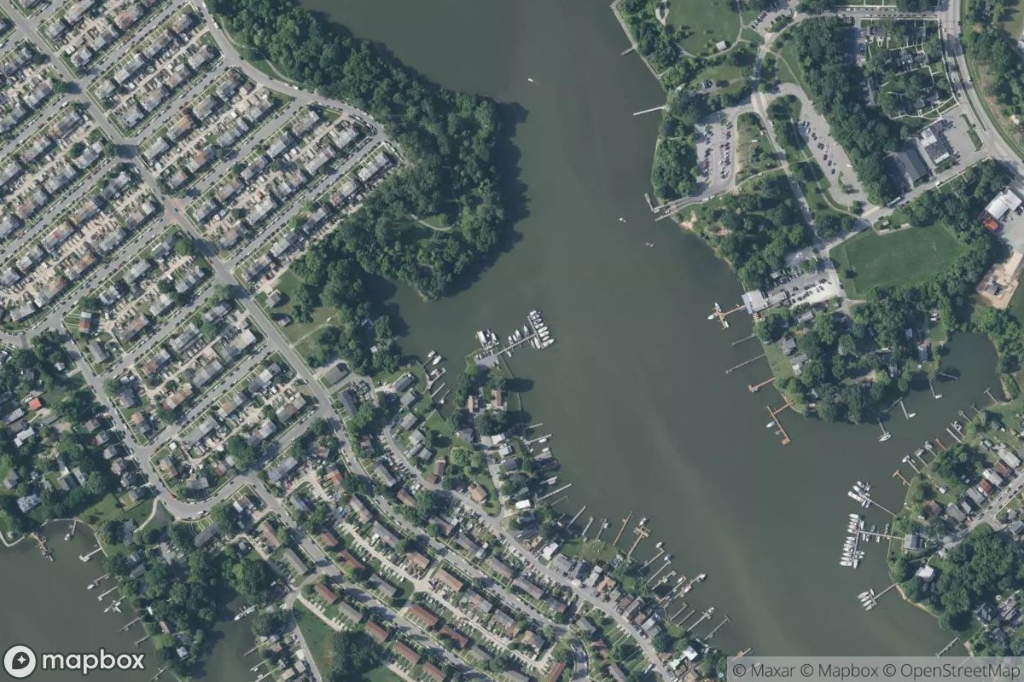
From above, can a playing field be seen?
Yes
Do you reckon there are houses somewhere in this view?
Yes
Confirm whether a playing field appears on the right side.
Yes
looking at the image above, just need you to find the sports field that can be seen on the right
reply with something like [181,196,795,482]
[832,222,969,299]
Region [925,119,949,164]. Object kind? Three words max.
building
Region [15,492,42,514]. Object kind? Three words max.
house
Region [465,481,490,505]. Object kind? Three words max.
house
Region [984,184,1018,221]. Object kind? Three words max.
building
